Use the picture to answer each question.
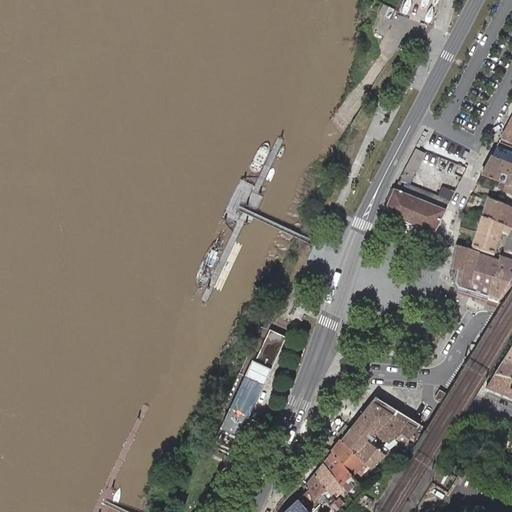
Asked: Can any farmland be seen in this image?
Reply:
No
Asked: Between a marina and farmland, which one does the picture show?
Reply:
marina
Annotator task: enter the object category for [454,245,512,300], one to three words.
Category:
house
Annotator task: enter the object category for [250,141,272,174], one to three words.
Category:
boat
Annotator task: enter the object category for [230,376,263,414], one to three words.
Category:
building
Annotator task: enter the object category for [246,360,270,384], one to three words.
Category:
building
